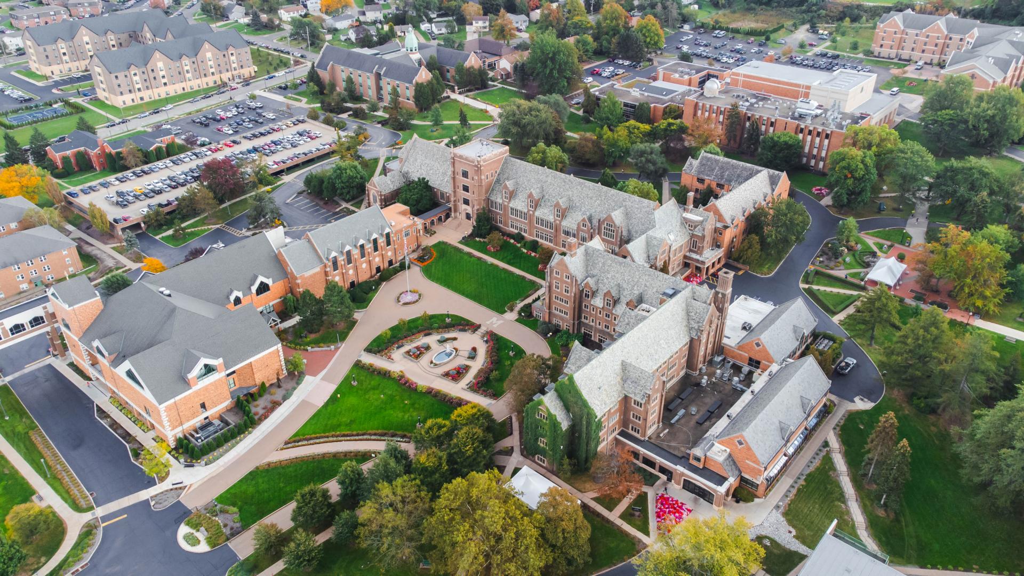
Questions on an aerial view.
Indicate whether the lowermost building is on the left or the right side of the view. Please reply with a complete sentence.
The lowermost building appears in the right half of the scene.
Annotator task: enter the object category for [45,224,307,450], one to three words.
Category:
building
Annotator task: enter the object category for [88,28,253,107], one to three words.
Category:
building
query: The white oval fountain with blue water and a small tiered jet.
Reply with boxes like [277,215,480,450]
[432,346,455,363]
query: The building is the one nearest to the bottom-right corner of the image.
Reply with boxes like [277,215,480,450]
[799,520,915,576]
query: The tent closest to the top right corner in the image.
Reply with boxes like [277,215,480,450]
[863,257,908,293]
